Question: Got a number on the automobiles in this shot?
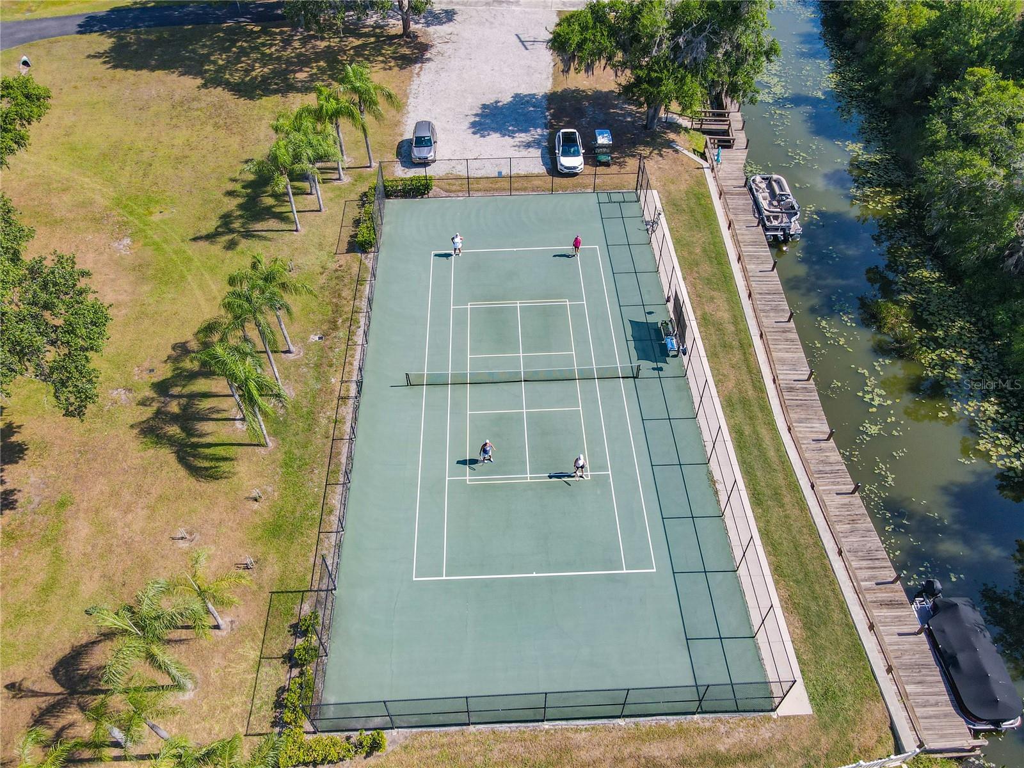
2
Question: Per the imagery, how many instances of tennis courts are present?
1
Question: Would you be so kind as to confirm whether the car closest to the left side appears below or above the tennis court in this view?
above it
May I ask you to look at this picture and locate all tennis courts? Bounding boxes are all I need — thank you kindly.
[308,189,776,739]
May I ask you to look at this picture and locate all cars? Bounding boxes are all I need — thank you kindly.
[554,125,586,173]
[407,117,436,161]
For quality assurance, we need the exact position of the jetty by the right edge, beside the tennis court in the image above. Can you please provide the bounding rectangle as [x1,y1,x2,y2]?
[703,82,991,763]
